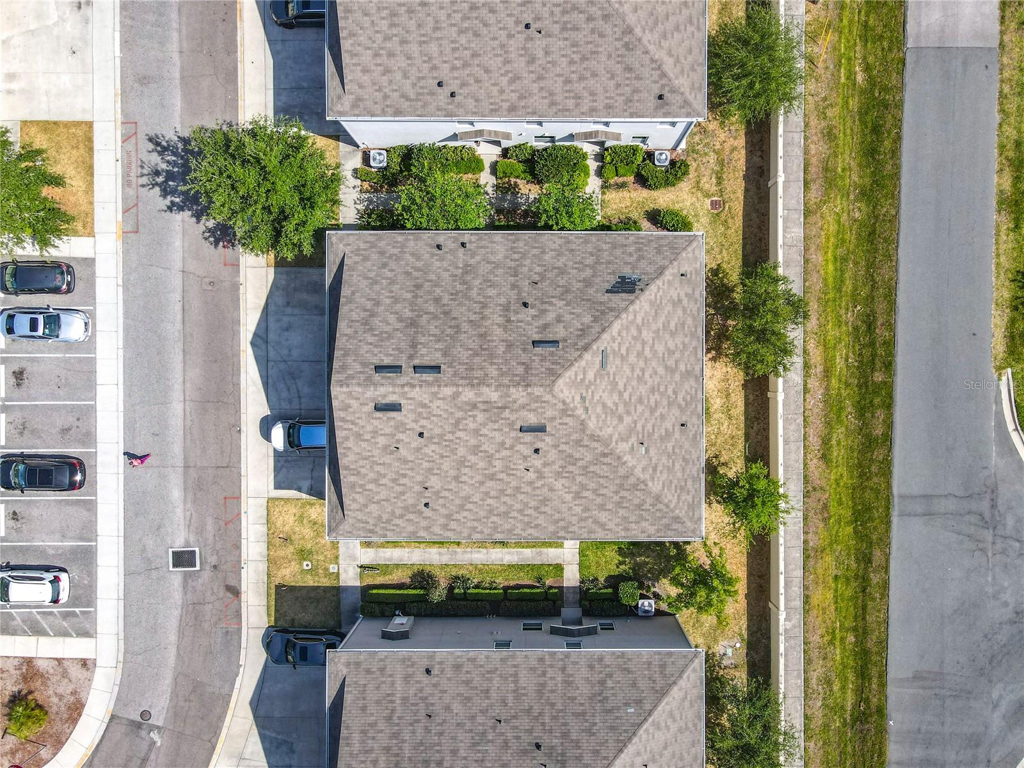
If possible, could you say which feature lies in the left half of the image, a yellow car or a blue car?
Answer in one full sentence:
What appears in the left half of the image is a blue car.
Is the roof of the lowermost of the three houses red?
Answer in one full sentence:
No, from above the roof of the lowermost of the three houses looks gray.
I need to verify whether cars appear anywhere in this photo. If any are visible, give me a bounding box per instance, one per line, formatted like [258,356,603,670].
[0,455,86,495]
[0,568,70,609]
[266,628,347,668]
[0,259,75,298]
[0,308,92,346]
[272,417,327,454]
[271,0,327,27]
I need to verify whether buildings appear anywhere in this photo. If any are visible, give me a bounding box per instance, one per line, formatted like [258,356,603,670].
[327,608,704,768]
[327,232,704,541]
[327,0,706,155]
